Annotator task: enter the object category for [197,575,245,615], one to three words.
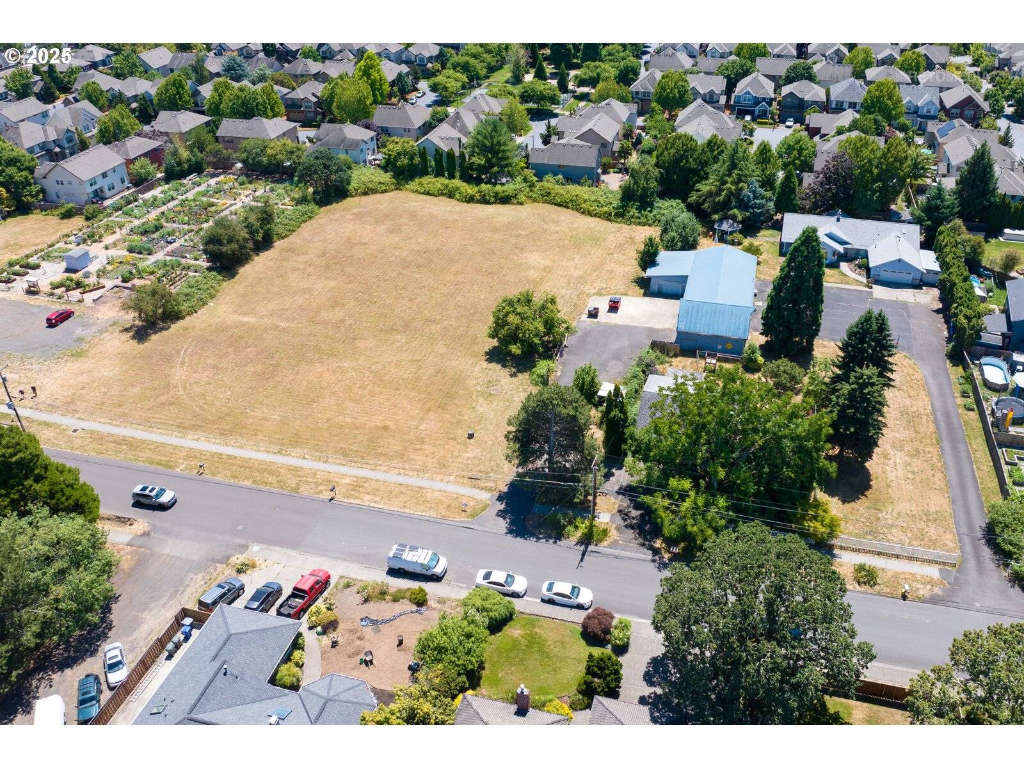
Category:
car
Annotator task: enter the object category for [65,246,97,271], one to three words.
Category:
shed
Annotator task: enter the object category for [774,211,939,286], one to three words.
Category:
house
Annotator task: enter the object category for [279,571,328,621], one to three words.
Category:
truck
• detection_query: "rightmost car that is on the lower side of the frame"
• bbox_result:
[540,582,594,610]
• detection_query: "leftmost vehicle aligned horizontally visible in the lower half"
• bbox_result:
[129,482,177,508]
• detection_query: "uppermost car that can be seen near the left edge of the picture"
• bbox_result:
[42,309,76,326]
